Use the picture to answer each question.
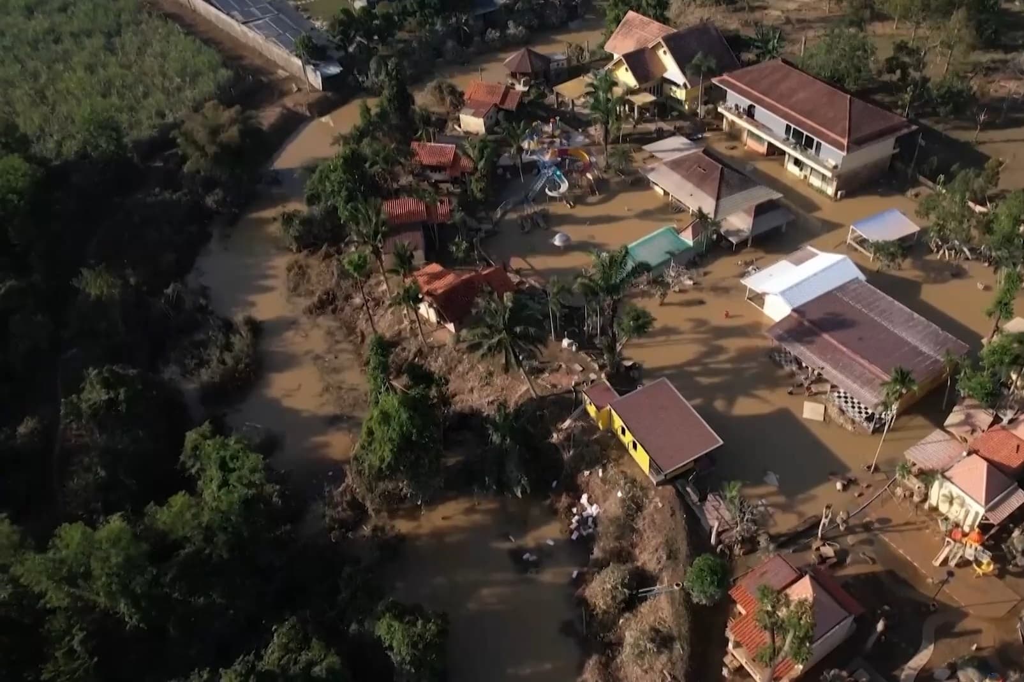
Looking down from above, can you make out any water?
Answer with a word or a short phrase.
Yes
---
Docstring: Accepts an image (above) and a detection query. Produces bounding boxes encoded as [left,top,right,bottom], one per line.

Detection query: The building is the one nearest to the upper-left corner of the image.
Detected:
[221,0,317,82]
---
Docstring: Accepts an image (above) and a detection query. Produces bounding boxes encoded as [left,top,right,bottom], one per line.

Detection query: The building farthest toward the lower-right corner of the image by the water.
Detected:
[927,451,1024,548]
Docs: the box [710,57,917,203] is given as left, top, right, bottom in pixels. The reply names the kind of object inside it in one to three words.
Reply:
building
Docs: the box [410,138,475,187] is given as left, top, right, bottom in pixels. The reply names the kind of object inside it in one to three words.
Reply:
house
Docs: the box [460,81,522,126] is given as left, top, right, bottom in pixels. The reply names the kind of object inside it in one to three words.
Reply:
house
